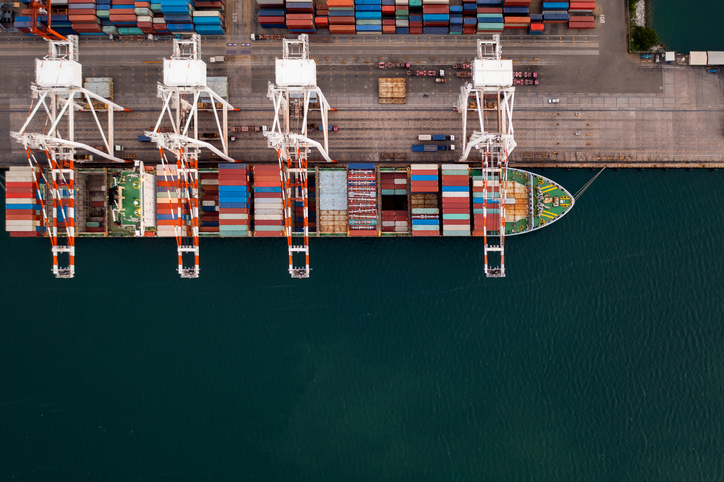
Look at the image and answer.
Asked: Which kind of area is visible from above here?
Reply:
port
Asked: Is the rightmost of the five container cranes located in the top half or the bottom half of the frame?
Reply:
top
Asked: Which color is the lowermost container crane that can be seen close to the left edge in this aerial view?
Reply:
white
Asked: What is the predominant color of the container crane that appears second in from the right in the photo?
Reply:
white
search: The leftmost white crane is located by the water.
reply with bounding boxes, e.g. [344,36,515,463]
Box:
[6,33,134,281]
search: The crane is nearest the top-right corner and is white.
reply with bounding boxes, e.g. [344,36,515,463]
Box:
[448,33,519,281]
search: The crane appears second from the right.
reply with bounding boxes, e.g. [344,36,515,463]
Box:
[262,33,341,281]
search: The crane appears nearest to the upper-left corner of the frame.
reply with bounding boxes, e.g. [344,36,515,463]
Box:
[30,0,66,36]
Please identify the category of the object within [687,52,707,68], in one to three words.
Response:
shed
